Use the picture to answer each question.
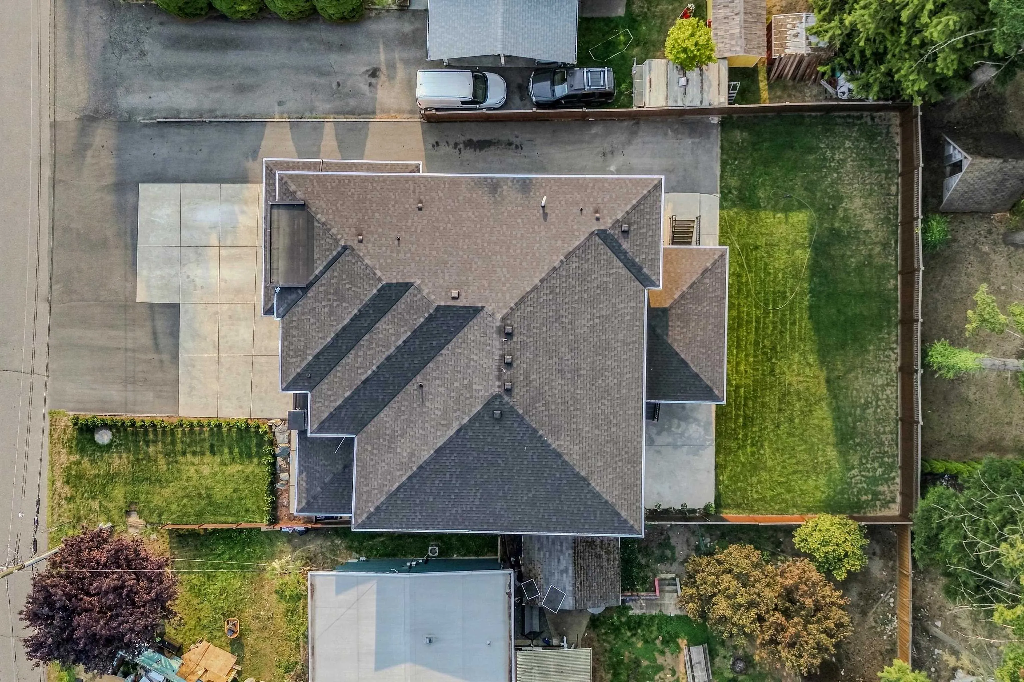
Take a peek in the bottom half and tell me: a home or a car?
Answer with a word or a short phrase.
home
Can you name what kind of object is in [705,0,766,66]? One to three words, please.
shed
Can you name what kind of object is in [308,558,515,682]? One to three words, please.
house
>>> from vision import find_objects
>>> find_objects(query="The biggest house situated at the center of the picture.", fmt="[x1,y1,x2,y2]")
[263,160,727,537]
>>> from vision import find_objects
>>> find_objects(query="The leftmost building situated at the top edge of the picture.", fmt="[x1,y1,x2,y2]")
[427,0,577,73]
